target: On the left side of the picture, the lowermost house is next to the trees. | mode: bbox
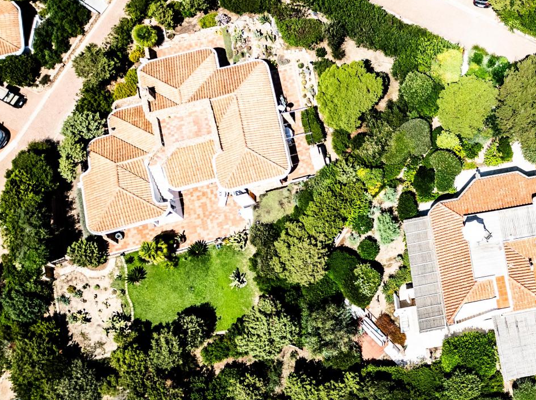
[80,46,293,234]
